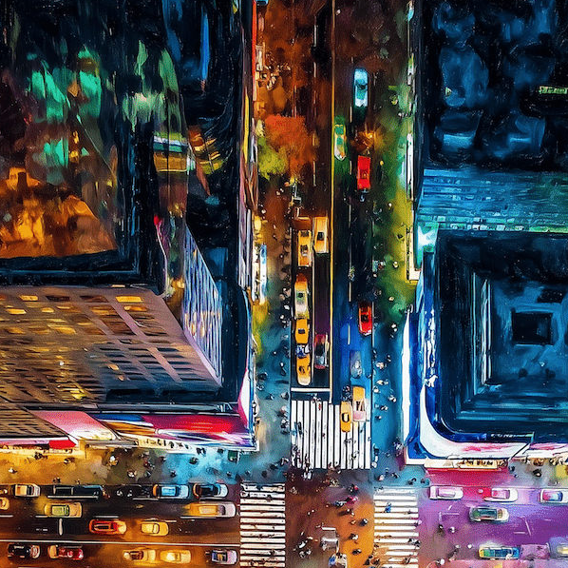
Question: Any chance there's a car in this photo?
Yes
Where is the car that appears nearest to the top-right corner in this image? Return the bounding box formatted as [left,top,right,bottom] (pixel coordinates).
[352,71,371,111]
